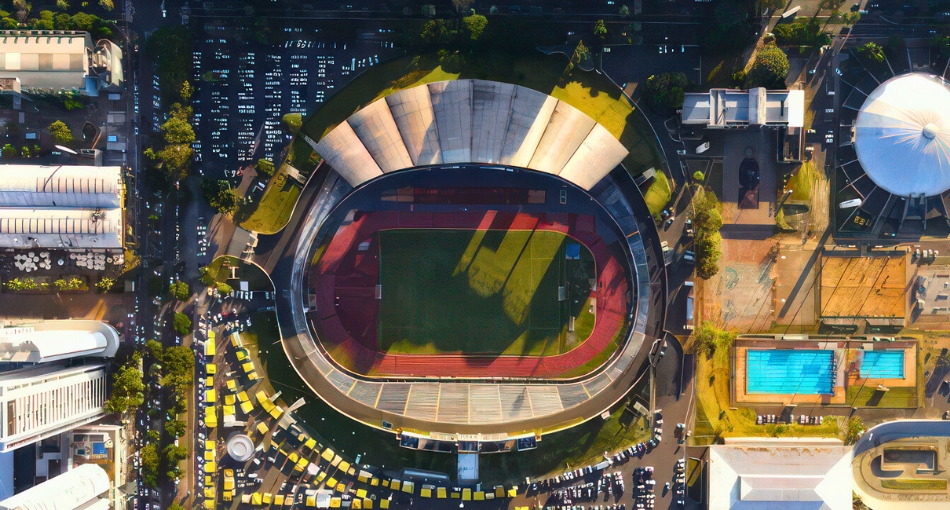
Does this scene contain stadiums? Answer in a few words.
Yes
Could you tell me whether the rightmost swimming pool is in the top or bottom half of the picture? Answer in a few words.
bottom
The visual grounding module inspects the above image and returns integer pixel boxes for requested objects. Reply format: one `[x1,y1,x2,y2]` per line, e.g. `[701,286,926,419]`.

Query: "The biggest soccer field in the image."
[379,230,596,355]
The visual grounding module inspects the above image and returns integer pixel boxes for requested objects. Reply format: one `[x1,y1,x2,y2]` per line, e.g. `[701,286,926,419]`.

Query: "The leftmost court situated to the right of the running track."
[722,256,774,326]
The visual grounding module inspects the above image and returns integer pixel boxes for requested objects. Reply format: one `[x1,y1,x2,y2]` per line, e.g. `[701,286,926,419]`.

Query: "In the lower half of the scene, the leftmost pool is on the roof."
[737,347,846,404]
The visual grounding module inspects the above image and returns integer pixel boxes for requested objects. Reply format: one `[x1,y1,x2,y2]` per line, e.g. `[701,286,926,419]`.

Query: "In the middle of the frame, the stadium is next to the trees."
[273,80,667,486]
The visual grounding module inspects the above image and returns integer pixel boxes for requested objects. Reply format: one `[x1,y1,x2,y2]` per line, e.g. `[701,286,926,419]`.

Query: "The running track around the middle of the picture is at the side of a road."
[309,187,635,379]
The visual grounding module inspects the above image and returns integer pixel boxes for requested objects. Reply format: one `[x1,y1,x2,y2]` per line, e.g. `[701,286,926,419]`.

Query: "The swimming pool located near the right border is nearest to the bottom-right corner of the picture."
[846,347,916,404]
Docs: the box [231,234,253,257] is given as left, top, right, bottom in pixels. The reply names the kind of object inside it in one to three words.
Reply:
shed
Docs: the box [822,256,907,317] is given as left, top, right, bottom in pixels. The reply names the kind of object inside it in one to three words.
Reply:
sports court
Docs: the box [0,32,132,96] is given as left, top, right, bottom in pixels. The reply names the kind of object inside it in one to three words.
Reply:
building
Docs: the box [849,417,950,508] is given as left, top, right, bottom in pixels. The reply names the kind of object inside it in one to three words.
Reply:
building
